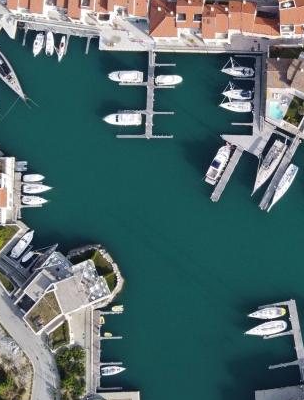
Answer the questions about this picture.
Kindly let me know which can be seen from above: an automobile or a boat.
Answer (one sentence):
It is a boat that can be seen here.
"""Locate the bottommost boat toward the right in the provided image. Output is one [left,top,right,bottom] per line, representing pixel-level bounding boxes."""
[243,320,288,343]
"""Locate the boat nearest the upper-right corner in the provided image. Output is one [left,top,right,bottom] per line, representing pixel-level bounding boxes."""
[219,62,256,77]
